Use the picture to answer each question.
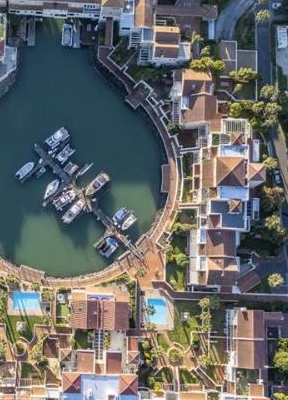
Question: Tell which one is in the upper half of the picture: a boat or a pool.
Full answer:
The one visible in the upper half of the picture is a boat.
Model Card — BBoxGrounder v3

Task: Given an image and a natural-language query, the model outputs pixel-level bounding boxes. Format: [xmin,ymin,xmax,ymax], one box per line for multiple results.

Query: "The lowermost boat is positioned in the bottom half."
[104,237,121,256]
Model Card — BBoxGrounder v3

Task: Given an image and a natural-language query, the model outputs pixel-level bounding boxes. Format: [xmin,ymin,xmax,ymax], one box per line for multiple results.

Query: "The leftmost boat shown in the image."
[14,163,34,181]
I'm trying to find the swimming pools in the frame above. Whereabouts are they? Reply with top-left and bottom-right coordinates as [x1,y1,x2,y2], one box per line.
[12,290,42,311]
[146,297,169,325]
